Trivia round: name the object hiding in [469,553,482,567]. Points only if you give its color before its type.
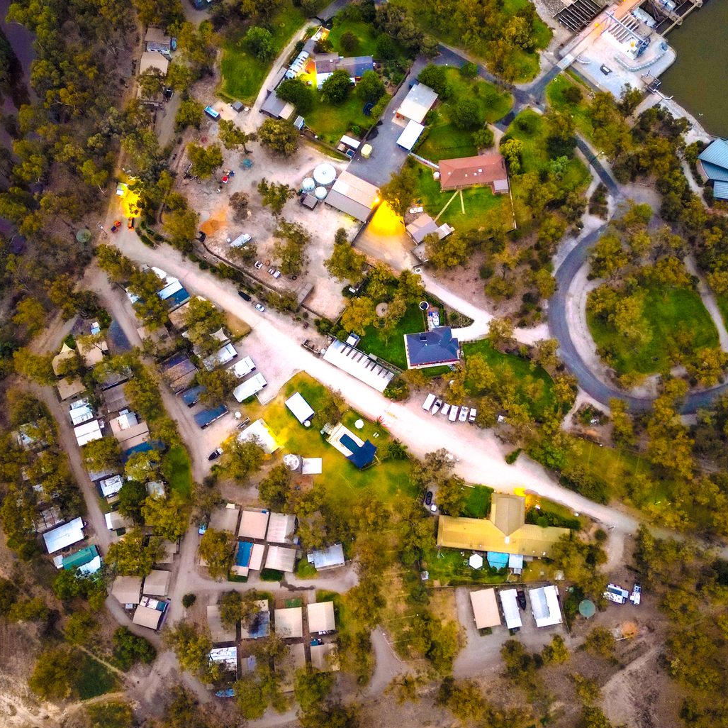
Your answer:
white umbrella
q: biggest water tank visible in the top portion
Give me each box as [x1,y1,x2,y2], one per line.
[312,162,337,187]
